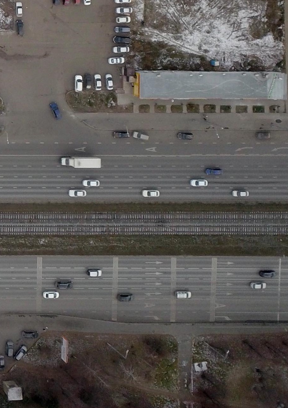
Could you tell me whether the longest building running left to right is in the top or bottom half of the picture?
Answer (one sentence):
Seen from above, the longest building running left to right lies in the top half of the view.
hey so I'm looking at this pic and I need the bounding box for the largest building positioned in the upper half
[130,70,287,98]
